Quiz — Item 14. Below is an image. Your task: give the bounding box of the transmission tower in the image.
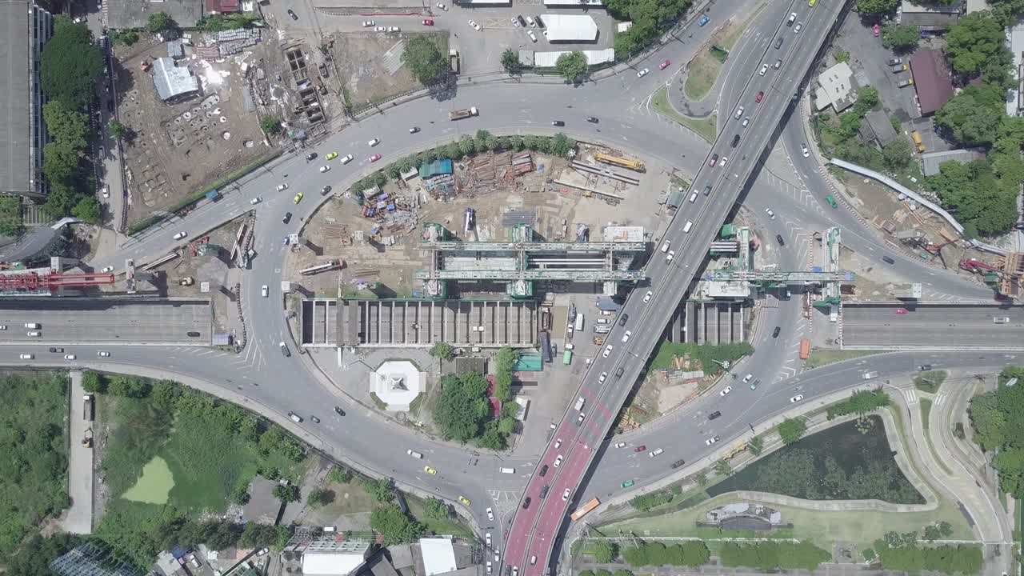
[618,531,644,552]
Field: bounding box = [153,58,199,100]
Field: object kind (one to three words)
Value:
building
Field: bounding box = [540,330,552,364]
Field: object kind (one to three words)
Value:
vehicle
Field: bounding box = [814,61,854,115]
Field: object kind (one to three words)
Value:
house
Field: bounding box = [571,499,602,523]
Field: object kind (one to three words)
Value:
bus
